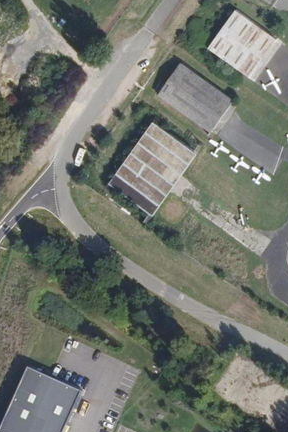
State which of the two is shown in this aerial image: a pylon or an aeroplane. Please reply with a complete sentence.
The one in the frame is an aeroplane.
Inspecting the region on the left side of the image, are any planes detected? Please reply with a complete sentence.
No, no plane can be made out on the left side of the image.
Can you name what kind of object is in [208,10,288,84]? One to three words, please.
hangar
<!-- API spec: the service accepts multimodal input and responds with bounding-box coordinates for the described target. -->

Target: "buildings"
[0,367,85,432]
[110,123,196,218]
[158,64,232,135]
[208,10,288,84]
